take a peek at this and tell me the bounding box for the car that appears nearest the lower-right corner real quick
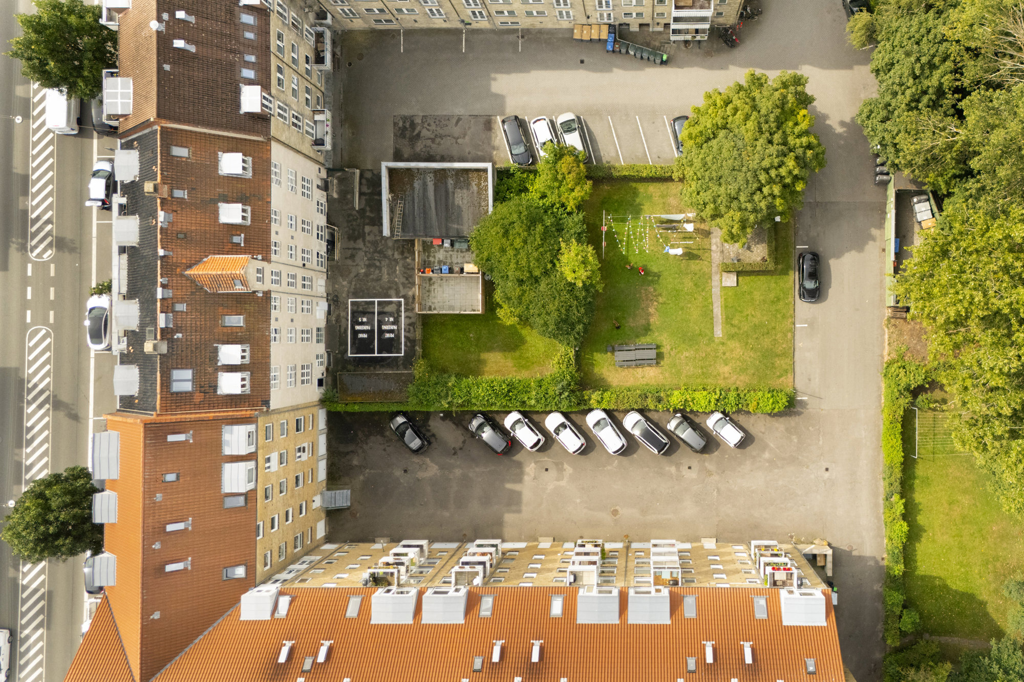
[706,414,745,448]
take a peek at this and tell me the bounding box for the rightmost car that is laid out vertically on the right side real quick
[797,250,822,302]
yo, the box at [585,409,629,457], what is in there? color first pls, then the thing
white car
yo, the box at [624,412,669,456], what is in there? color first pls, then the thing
white car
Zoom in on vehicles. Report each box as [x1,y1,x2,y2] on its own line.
[665,413,708,454]
[49,90,85,140]
[585,409,629,457]
[624,412,669,456]
[82,548,104,596]
[545,411,586,455]
[390,411,431,456]
[81,295,109,349]
[532,115,560,152]
[503,114,532,164]
[88,92,114,135]
[797,250,822,302]
[560,111,589,159]
[706,414,745,448]
[84,163,112,210]
[469,412,512,457]
[671,112,690,140]
[504,410,545,453]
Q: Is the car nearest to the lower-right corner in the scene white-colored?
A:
Yes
